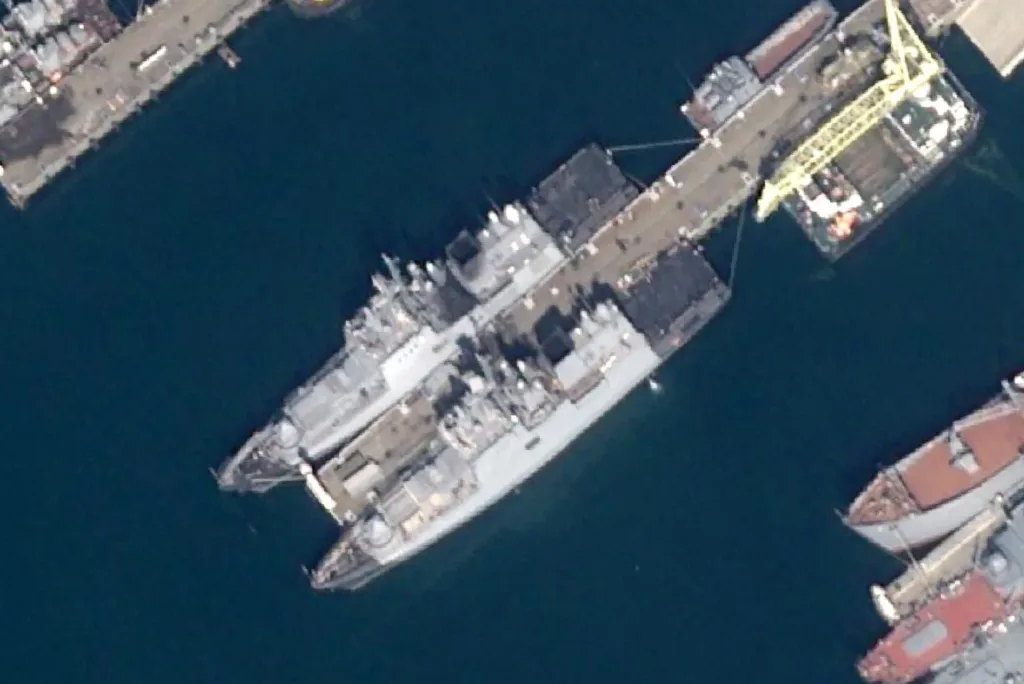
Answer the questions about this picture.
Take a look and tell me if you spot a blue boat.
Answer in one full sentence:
No, I can't see a single blue boat in this photo.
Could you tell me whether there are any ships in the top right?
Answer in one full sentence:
Yes, a ship shows up in the top right.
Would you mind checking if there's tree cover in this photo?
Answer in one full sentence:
No, there's no tree cover in this view.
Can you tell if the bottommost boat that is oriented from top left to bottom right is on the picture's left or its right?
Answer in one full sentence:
The bottommost boat that is oriented from top left to bottom right sits on the right side.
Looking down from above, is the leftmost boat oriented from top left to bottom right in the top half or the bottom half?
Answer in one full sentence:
The leftmost boat oriented from top left to bottom right sits in the bottom half of the picture.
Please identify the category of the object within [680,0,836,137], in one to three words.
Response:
ship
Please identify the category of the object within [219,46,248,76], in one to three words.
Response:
pier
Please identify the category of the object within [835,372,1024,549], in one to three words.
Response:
ship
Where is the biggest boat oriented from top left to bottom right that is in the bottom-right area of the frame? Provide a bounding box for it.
[869,586,902,625]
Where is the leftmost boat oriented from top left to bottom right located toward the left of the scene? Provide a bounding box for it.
[302,470,348,523]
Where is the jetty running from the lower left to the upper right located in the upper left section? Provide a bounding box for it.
[0,0,283,216]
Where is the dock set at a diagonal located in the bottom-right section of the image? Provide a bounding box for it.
[885,480,1024,612]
